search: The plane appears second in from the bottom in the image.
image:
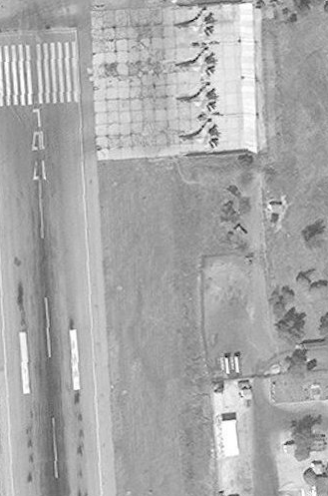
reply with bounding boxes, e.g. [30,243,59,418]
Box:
[179,86,219,116]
